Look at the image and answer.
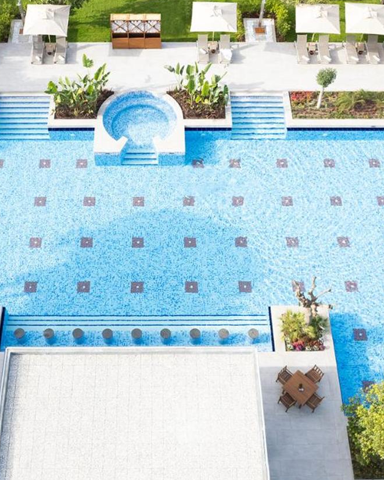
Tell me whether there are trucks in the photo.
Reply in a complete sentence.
No, there's no truck here.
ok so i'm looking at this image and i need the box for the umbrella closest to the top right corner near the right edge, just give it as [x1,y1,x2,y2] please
[342,5,384,47]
